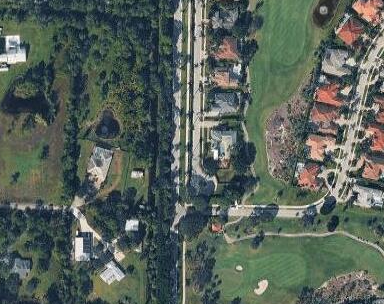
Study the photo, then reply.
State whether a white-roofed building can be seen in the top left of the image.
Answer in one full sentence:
Yes, in the top left of the image there is a white-roofed building.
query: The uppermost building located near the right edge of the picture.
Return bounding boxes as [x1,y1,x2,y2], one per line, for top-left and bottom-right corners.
[352,0,381,25]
